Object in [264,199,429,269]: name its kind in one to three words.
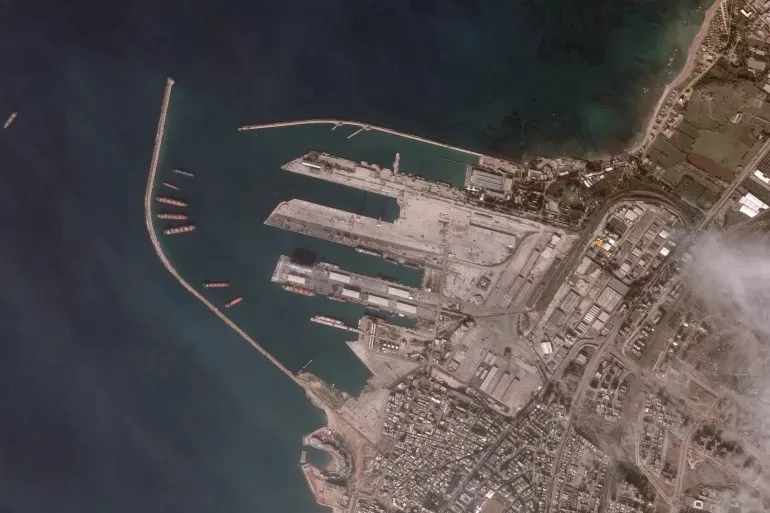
pier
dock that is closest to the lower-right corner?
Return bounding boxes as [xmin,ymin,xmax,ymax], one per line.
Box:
[347,316,434,378]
